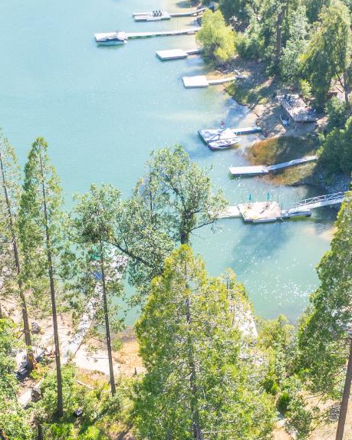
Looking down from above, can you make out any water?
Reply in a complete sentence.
Yes, some water is visible.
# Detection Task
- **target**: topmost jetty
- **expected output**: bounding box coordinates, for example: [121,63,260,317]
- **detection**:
[133,8,207,22]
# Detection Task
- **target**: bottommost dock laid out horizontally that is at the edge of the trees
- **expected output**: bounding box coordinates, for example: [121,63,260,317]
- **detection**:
[205,184,352,223]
